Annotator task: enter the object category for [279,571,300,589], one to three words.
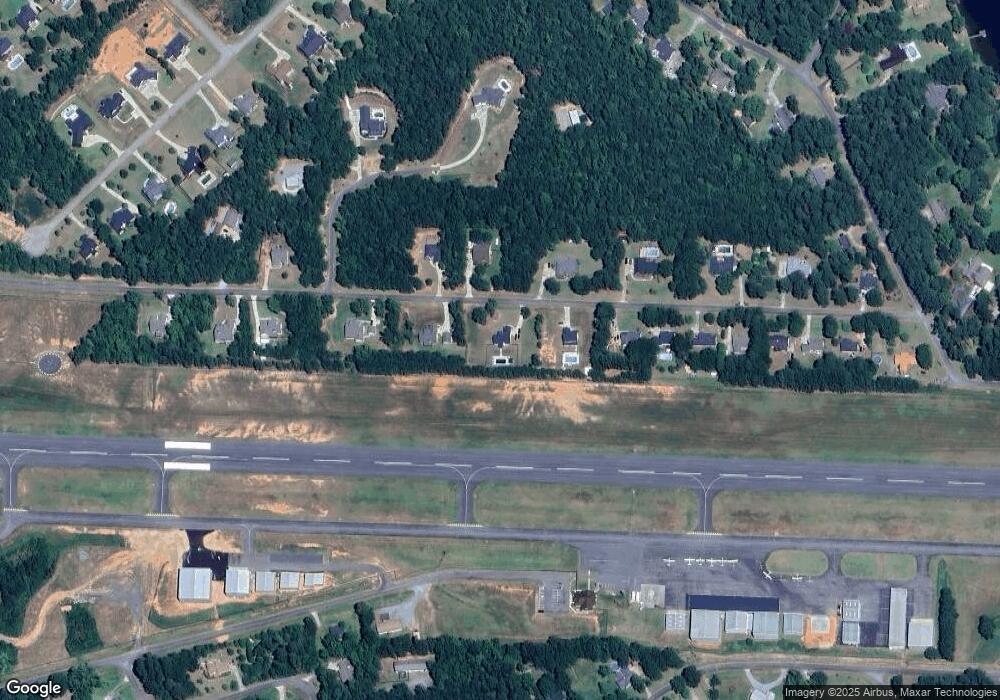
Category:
hangar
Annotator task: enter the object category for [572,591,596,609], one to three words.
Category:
building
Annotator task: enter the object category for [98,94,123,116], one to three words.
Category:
house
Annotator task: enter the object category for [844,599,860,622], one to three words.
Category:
hangar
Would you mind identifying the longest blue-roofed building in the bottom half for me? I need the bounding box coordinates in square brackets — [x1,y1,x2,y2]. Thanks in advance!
[689,594,779,613]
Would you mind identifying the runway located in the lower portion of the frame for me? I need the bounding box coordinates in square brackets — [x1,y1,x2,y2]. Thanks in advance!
[0,433,1000,500]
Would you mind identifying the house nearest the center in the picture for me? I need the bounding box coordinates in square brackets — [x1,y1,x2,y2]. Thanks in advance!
[492,326,514,347]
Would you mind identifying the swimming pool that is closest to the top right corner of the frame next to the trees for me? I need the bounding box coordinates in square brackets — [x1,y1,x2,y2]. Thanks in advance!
[903,43,921,61]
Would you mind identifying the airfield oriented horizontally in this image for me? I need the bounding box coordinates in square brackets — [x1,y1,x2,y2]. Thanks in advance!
[0,433,1000,646]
